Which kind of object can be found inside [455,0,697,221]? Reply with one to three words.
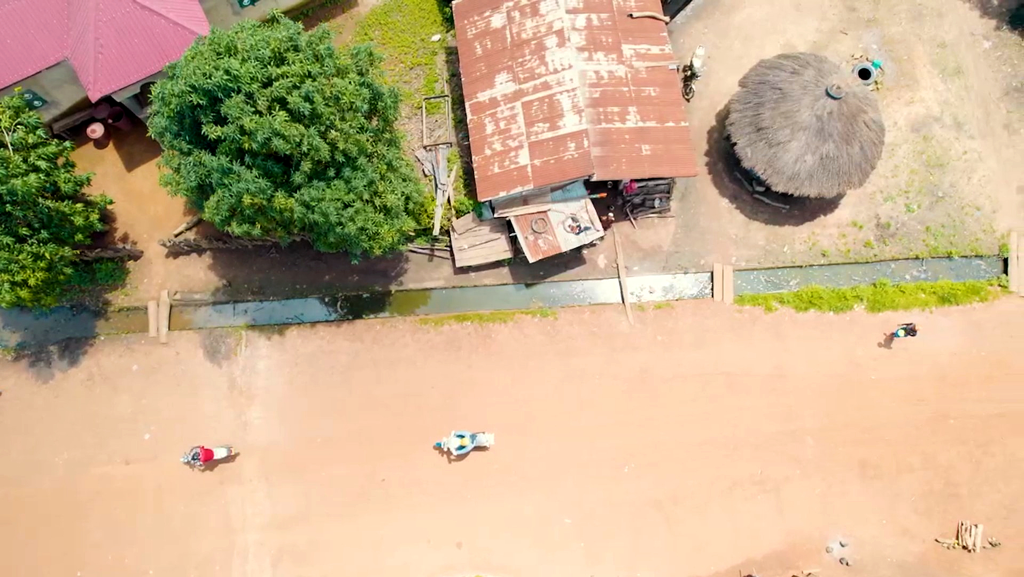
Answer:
building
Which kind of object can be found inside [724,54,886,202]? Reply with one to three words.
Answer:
shed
